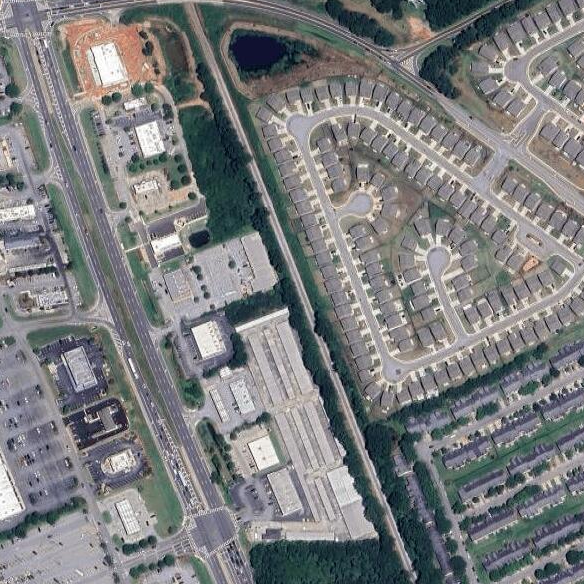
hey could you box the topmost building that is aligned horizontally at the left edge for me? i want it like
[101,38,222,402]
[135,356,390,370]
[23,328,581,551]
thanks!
[0,205,37,224]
